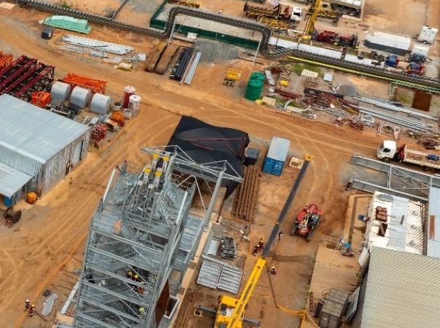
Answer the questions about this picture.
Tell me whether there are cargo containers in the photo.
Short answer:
Yes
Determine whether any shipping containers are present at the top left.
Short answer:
No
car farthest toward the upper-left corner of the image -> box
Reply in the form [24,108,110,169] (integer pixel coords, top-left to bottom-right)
[40,25,53,40]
